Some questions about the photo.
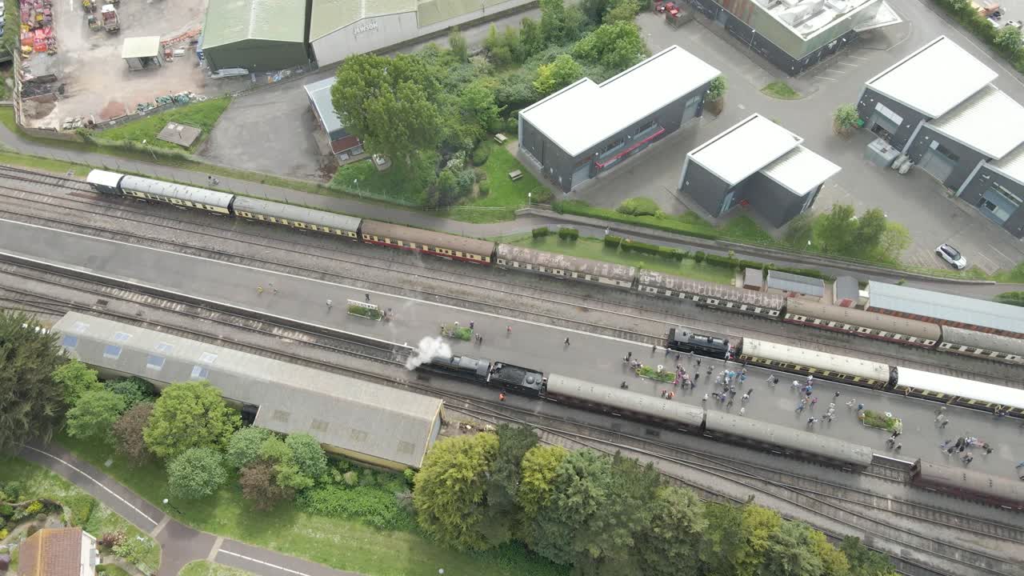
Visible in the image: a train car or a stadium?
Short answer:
train car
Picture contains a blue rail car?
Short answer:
No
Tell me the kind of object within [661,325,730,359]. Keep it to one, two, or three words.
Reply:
rail car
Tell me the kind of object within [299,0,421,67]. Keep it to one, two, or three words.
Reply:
building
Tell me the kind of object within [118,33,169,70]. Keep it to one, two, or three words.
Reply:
shed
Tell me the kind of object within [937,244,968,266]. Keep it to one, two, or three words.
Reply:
car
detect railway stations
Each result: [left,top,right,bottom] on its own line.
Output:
[0,219,1024,480]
